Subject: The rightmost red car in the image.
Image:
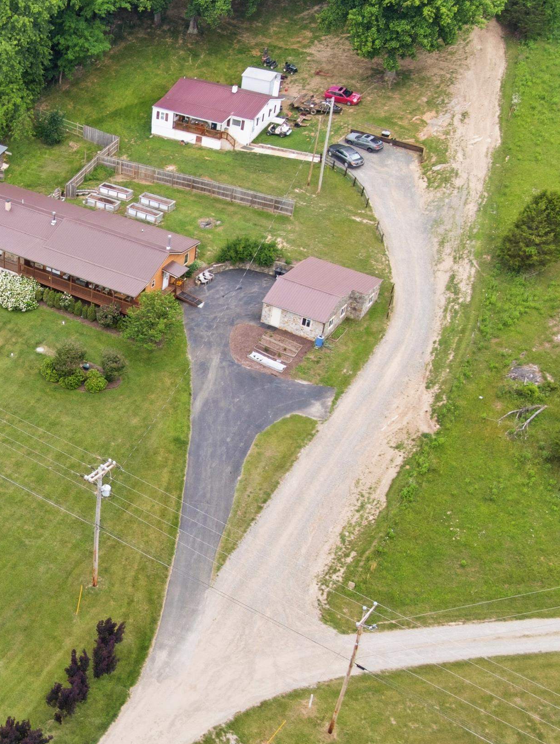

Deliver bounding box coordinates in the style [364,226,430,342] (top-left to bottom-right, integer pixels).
[321,85,359,105]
